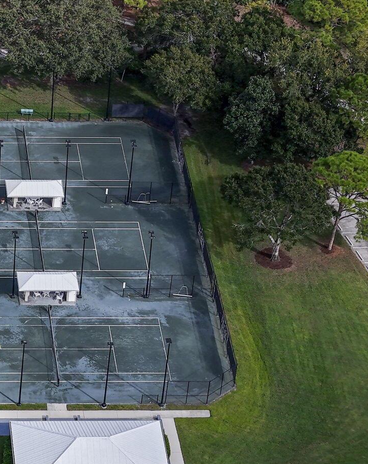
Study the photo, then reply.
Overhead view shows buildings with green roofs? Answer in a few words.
No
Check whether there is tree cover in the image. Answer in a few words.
Yes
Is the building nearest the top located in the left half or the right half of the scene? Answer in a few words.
left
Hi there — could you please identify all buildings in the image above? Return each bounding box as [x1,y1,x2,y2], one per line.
[16,271,79,306]
[4,179,64,211]
[8,419,170,464]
